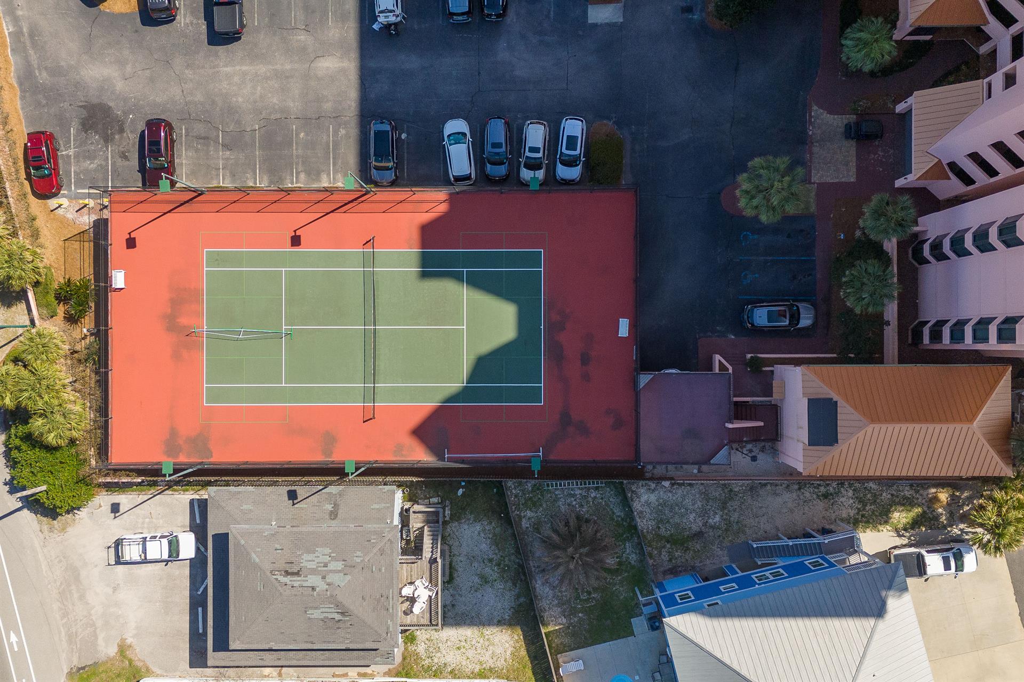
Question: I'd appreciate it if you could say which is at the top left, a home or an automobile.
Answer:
automobile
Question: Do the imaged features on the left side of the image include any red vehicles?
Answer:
Yes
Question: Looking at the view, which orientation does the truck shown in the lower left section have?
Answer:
from side to side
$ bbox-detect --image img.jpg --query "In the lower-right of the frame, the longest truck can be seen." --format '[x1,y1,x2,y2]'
[889,543,977,578]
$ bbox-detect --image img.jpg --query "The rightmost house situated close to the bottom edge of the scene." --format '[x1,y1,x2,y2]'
[651,548,931,682]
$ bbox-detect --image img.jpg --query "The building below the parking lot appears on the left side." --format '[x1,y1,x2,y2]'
[208,483,405,667]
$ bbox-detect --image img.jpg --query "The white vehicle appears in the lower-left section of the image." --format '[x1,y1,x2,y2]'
[111,531,199,564]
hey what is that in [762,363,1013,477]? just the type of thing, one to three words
building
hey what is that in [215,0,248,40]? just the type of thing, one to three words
truck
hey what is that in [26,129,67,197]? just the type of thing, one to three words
car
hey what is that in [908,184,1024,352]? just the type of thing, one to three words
building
